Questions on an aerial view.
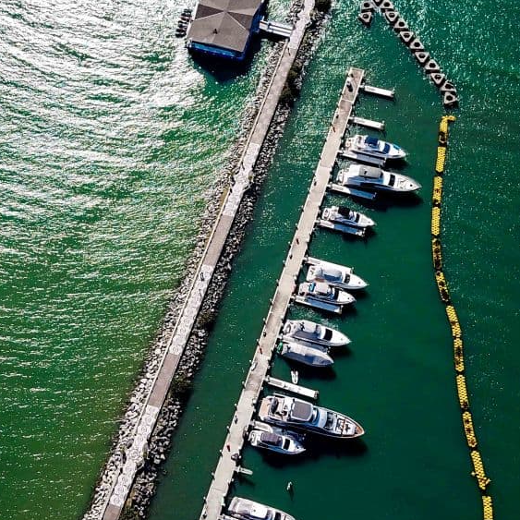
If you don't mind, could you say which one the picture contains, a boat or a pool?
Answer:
boat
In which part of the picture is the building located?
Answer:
top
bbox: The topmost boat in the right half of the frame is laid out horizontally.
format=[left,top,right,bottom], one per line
[344,134,407,160]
